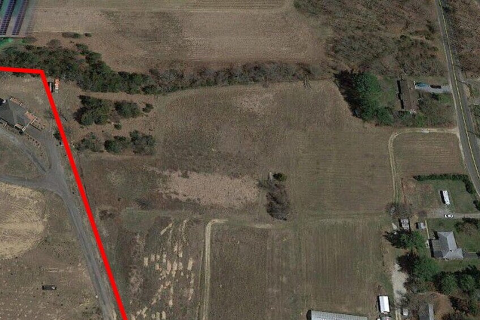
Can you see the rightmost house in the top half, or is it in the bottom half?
bottom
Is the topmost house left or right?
right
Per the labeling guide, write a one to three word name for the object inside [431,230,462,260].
house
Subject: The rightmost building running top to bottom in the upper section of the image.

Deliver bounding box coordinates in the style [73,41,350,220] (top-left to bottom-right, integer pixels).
[401,77,421,115]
